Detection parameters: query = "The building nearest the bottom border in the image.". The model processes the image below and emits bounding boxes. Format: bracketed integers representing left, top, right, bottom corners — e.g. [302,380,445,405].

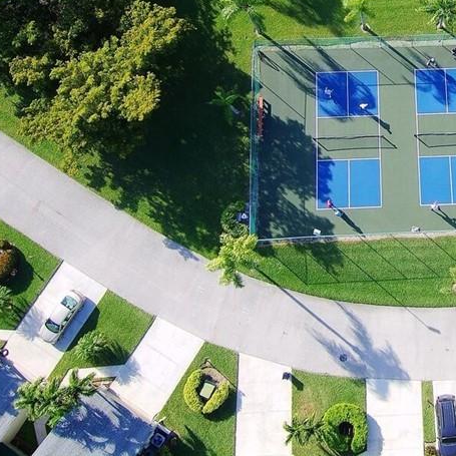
[51,390,155,456]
